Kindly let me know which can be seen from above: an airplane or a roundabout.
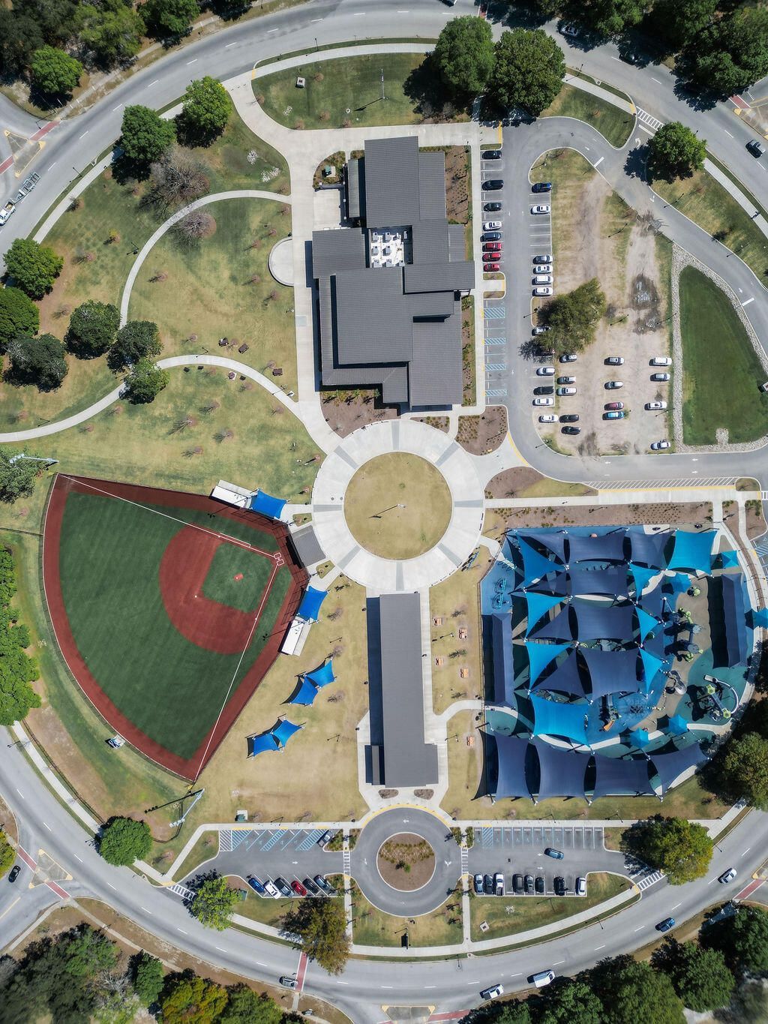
roundabout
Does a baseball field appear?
Yes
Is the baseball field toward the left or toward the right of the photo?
left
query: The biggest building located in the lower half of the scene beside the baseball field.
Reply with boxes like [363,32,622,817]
[372,593,438,788]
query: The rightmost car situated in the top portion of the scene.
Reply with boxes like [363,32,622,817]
[745,140,764,159]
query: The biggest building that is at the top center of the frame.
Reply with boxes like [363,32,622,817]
[312,136,475,410]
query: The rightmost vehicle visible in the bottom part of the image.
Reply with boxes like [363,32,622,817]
[717,866,736,883]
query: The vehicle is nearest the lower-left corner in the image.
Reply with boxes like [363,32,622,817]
[10,862,22,883]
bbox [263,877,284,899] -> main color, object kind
white truck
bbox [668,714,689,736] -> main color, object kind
blue umbrella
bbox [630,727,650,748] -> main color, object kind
blue umbrella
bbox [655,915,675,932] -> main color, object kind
blue car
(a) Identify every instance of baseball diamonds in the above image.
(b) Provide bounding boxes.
[43,474,308,781]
